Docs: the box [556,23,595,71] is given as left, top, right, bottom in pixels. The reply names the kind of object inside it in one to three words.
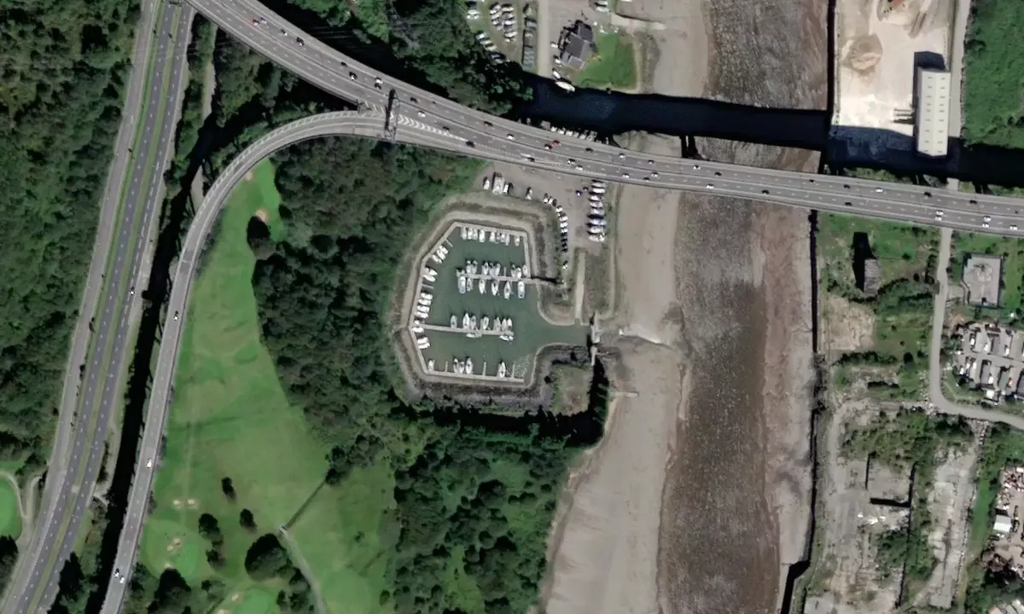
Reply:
building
